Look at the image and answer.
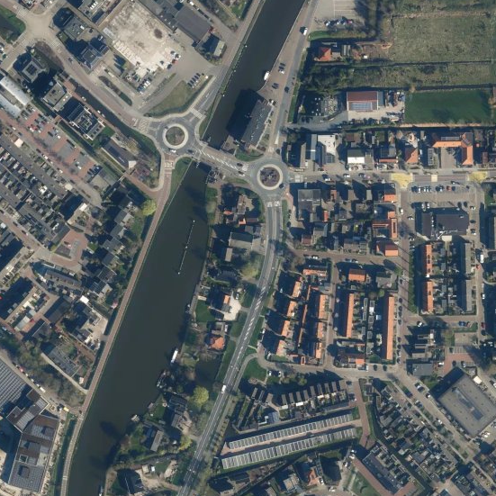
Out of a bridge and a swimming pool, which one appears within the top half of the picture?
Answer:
bridge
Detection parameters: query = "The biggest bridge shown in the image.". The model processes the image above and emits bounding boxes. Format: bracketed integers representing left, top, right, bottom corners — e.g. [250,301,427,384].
[183,135,220,168]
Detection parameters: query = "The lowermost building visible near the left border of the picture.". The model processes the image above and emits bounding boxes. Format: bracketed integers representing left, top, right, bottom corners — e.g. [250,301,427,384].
[9,415,60,494]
